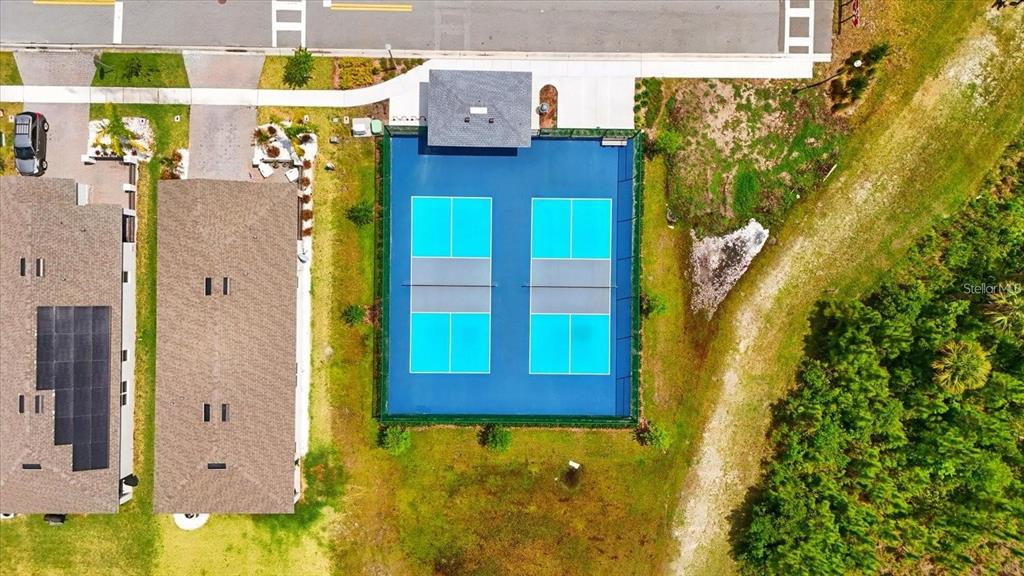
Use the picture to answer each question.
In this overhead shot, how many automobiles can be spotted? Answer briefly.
1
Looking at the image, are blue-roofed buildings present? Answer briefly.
No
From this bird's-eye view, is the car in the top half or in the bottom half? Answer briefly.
top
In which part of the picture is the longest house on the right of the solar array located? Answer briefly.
left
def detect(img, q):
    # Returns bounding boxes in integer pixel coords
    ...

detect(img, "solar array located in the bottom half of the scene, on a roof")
[37,306,111,470]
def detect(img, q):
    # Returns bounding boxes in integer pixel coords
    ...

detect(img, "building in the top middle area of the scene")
[428,70,532,147]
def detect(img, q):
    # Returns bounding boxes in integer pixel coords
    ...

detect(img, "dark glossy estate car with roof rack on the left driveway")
[12,112,49,176]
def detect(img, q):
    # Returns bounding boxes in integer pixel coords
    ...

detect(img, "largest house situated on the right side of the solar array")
[154,180,303,513]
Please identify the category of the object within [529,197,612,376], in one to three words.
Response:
sports court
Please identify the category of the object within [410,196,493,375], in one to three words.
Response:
sports court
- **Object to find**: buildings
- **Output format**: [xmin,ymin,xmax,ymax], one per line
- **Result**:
[428,70,532,147]
[0,176,142,514]
[154,180,303,513]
